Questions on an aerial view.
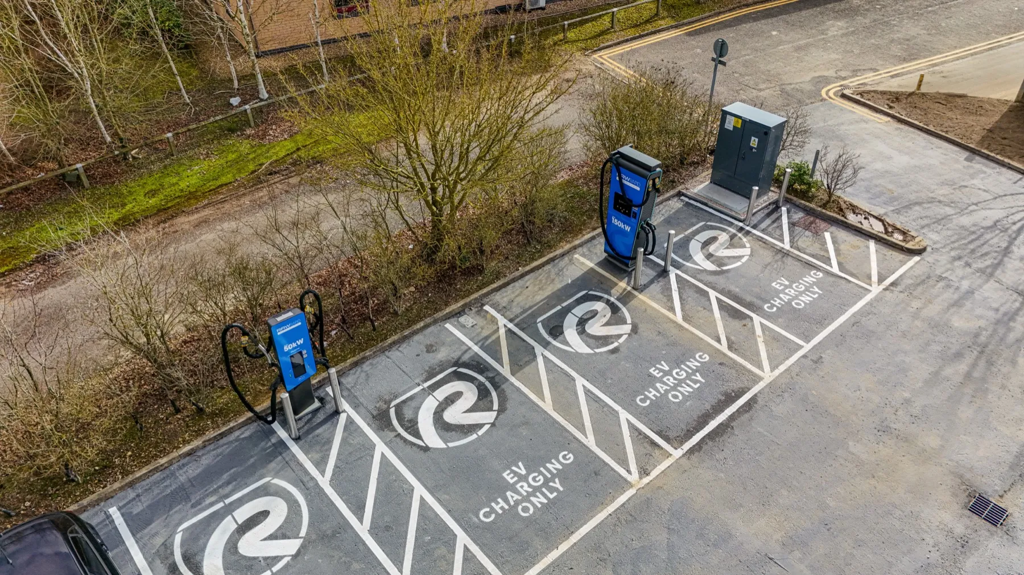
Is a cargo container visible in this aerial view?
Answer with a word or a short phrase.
No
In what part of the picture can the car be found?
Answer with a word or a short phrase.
bottom left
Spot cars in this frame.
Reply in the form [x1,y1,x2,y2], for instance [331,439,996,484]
[0,504,124,575]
